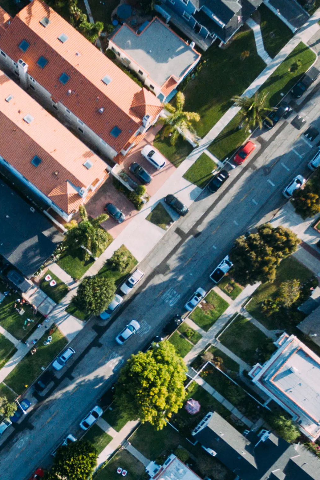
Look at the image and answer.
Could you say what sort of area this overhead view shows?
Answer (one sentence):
This looks like a residential area.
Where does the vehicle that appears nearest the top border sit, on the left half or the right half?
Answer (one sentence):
The vehicle that appears nearest the top border appears in the right half of the scene.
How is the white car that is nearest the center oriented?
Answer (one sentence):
The white car that is nearest the center is oriented at an angle.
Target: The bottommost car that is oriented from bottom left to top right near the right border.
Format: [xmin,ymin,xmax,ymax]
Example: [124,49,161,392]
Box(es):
[281,173,307,201]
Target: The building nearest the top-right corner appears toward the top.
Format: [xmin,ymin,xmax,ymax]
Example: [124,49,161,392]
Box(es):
[262,0,311,37]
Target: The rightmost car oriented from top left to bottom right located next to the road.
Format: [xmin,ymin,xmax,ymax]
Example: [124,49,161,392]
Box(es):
[163,193,189,217]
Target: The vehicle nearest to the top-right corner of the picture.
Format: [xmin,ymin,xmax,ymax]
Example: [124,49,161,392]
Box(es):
[291,66,320,99]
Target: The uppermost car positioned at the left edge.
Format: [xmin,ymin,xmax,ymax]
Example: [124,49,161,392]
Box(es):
[3,265,31,291]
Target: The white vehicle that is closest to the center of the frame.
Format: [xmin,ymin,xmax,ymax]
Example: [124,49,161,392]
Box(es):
[120,268,146,295]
